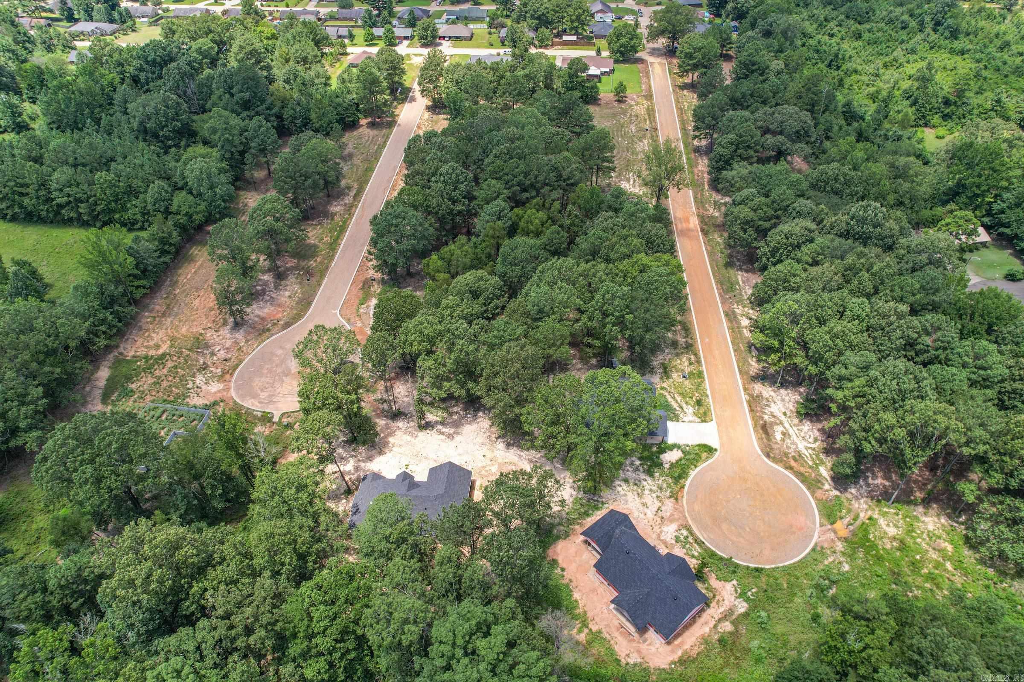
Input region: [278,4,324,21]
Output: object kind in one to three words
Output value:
house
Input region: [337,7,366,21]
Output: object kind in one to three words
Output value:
house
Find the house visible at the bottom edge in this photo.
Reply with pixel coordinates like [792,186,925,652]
[579,509,711,649]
